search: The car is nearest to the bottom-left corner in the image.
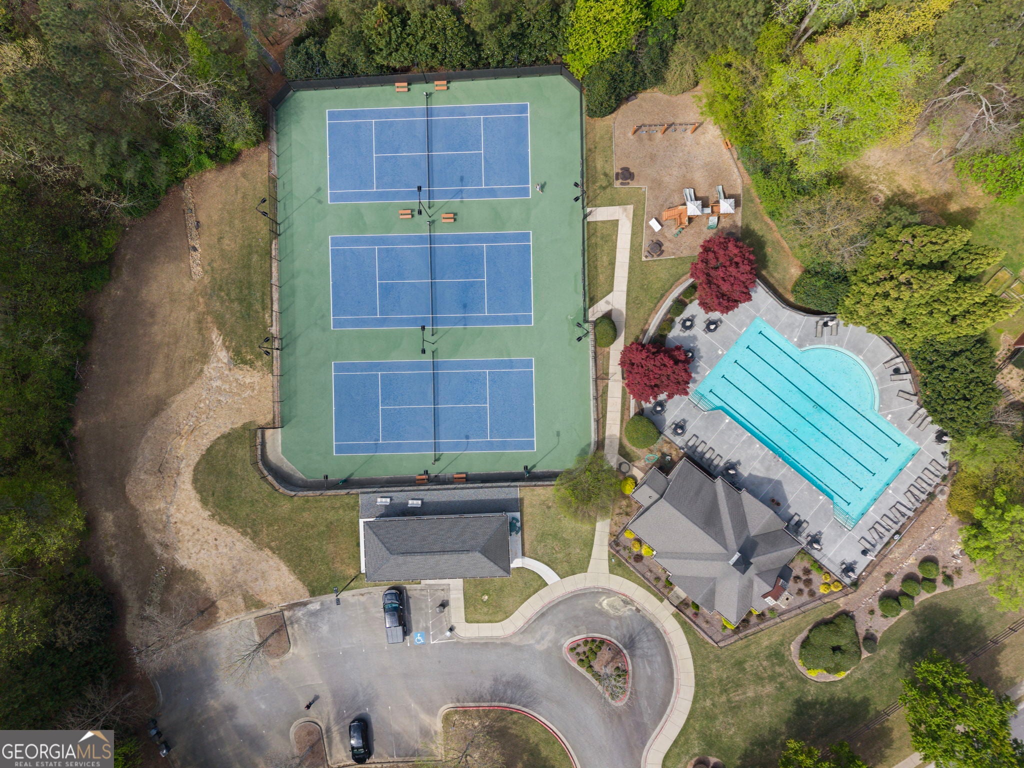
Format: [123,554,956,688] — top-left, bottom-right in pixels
[350,718,371,761]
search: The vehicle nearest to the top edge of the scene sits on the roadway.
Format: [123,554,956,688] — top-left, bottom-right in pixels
[381,590,405,644]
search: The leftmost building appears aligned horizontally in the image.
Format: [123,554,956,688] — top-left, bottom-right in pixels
[363,513,511,583]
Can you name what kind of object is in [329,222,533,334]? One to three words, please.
tennis court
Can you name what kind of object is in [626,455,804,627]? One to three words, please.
building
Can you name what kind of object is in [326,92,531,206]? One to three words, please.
tennis court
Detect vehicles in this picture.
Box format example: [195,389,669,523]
[350,718,371,761]
[381,590,405,644]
